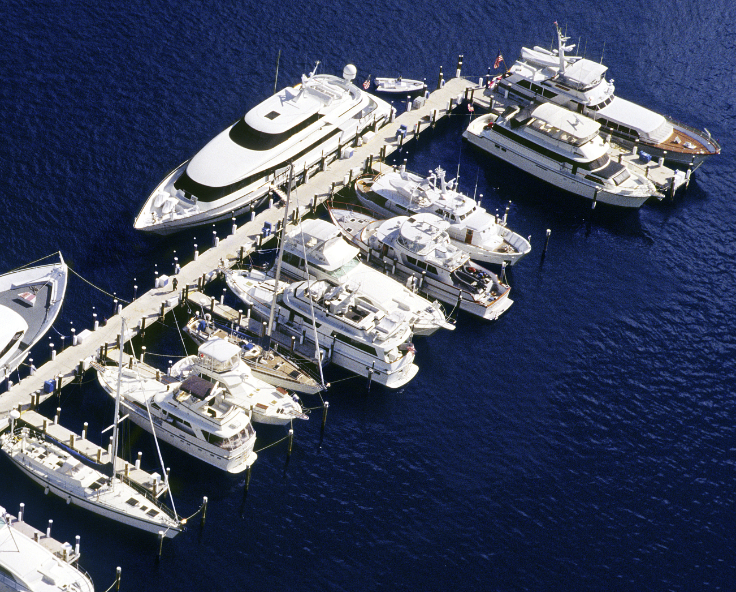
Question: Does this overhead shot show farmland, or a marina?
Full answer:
What you see here is a marina.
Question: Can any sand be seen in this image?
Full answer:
No, no sand is visible.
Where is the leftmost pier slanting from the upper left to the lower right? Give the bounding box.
[0,507,87,570]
